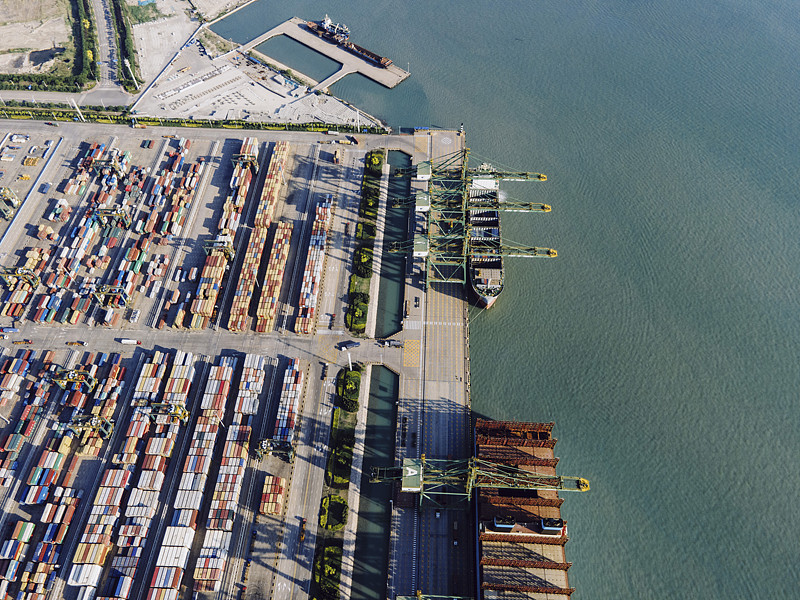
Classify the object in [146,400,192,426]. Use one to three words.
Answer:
container crane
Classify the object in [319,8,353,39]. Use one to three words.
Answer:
boat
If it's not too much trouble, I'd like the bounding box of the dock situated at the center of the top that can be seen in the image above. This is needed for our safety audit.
[238,16,412,93]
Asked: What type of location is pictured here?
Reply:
port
